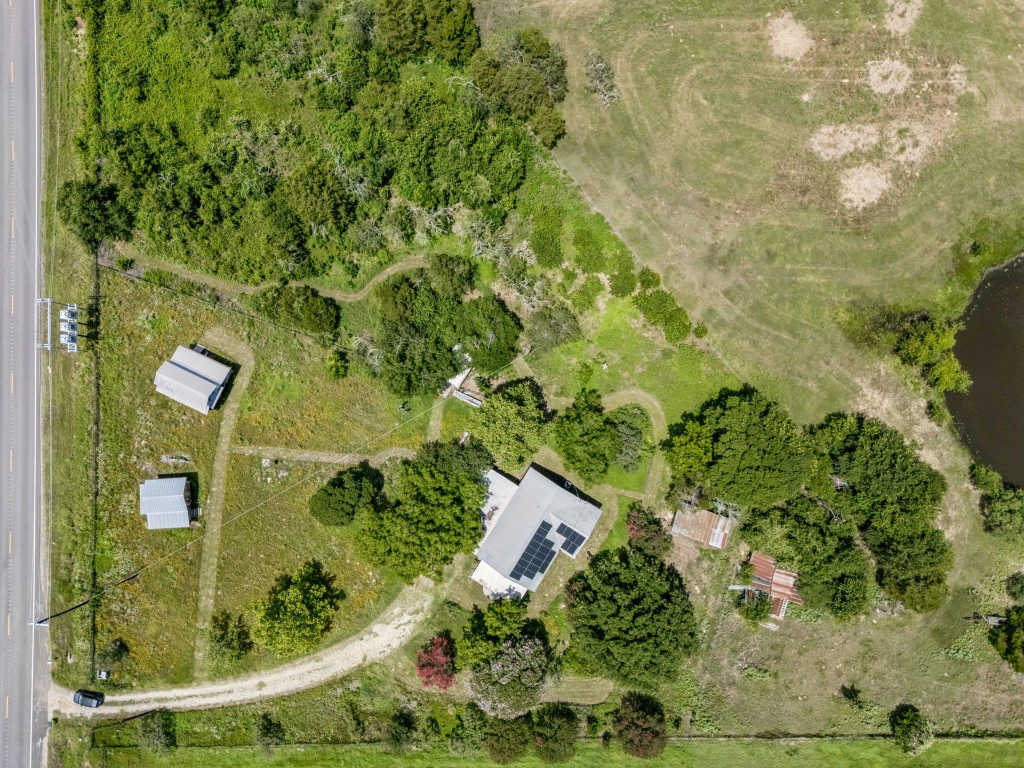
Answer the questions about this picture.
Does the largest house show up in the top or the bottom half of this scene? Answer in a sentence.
The bottom half of the photo is where the largest house is.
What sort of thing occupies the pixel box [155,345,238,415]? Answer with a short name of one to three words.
building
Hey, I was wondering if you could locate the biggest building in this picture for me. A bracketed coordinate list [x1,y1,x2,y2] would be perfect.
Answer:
[469,467,602,605]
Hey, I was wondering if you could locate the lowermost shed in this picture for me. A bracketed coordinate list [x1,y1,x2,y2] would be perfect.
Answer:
[748,552,803,617]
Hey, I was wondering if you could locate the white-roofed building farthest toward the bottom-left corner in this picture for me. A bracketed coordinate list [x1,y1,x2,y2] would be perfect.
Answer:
[140,477,202,529]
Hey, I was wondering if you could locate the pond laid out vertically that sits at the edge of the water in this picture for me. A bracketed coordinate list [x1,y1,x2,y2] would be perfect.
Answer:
[946,253,1024,487]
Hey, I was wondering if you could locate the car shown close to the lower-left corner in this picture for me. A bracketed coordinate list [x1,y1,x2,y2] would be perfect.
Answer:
[73,689,107,707]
